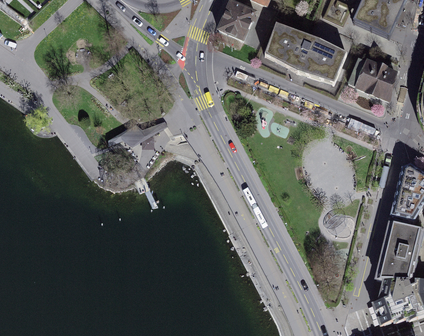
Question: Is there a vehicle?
Yes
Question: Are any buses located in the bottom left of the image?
No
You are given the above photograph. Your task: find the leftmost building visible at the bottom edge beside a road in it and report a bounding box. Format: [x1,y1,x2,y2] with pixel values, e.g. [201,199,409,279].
[368,298,393,328]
